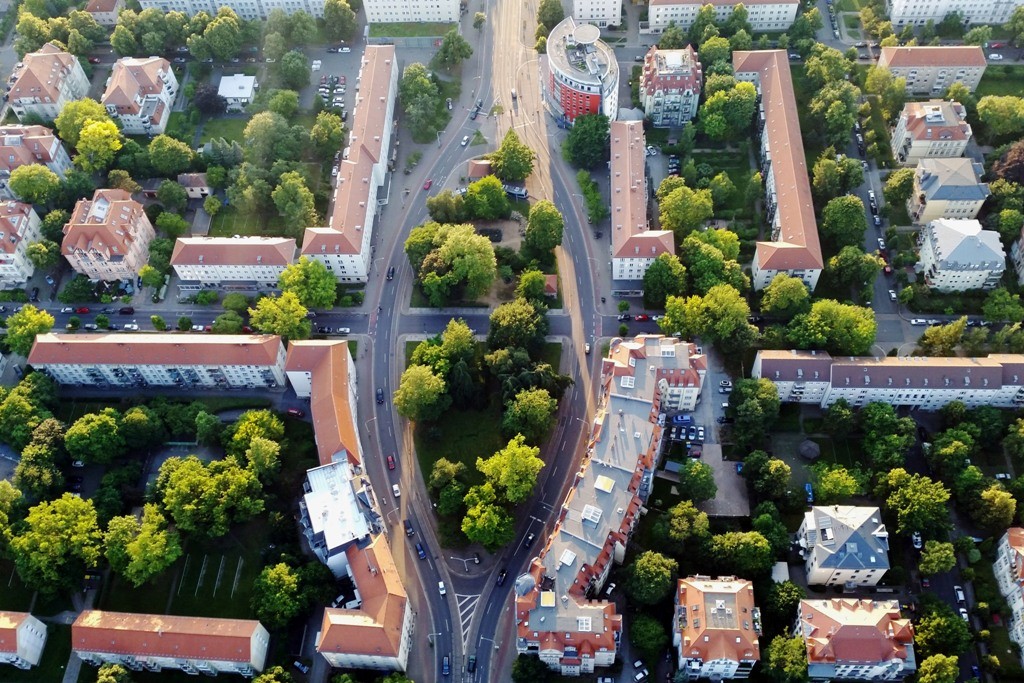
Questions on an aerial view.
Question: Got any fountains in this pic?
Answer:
No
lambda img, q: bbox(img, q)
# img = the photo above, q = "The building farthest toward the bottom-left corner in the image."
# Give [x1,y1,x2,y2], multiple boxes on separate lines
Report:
[0,612,46,661]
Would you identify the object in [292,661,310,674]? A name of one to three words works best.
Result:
vehicle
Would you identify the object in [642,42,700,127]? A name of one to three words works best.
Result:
house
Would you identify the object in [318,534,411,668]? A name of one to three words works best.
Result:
building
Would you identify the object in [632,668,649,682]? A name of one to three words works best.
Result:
car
